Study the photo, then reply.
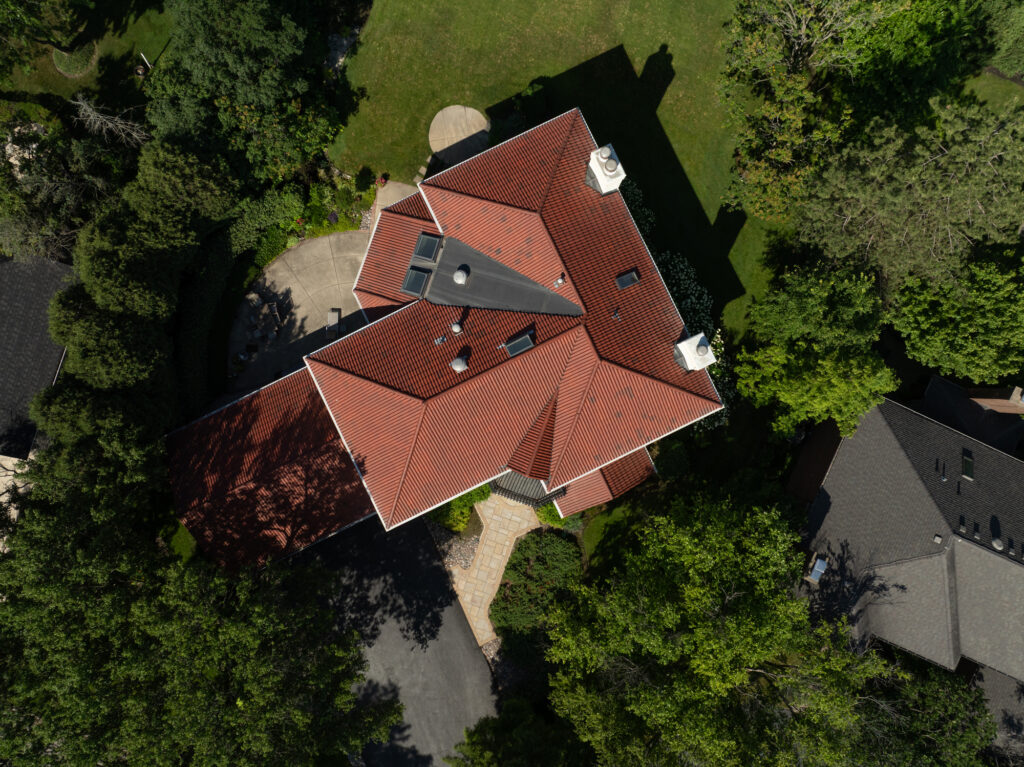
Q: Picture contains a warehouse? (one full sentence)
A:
No, the picture doesn't show any warehouse.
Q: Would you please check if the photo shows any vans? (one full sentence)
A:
No, the frame has no van in it.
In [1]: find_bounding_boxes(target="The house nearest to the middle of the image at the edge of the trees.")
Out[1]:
[150,107,726,591]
